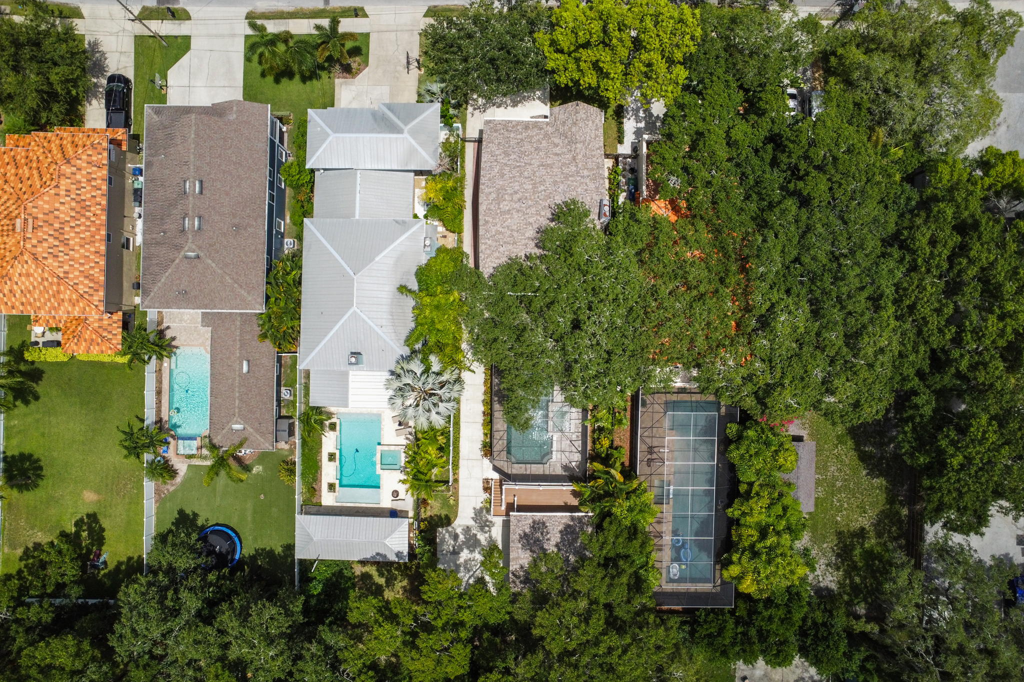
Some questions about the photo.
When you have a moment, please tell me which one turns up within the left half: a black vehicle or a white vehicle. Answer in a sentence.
It is a black vehicle that can be seen within the left half.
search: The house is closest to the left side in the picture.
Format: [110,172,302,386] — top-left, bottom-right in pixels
[0,126,139,354]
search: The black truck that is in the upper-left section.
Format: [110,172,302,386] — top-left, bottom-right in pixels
[103,70,132,128]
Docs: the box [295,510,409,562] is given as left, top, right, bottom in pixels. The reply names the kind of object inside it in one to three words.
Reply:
building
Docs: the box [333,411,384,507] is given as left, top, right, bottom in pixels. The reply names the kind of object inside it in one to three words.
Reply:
swimming pool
